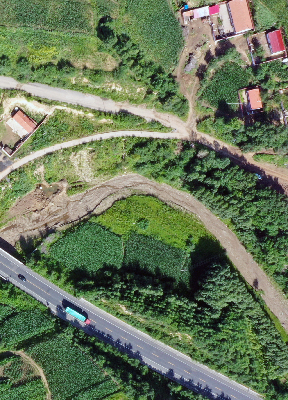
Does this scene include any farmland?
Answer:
Yes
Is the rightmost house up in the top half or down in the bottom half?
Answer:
top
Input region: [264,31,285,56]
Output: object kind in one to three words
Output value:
house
